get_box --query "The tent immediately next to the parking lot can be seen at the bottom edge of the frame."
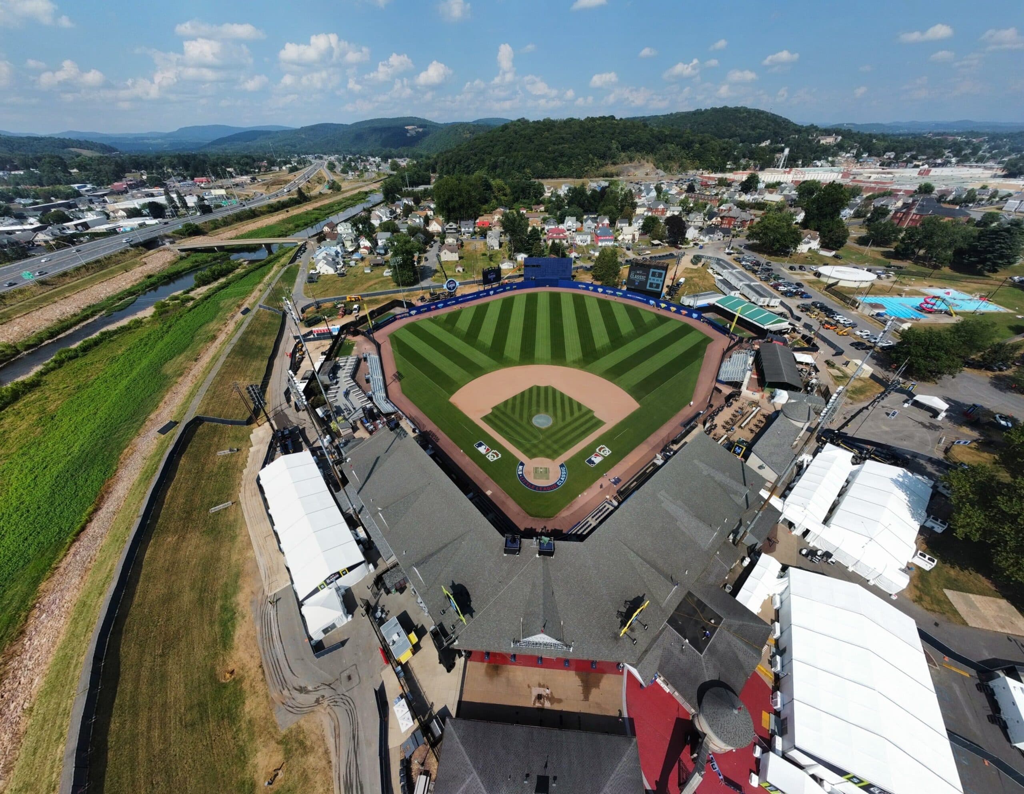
[775,568,963,794]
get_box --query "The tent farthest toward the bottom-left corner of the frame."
[301,588,352,649]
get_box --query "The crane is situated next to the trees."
[818,379,901,467]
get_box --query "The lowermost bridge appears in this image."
[160,237,313,254]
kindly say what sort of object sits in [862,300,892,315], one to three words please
building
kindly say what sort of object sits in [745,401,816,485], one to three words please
building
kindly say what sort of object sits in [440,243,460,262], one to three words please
house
